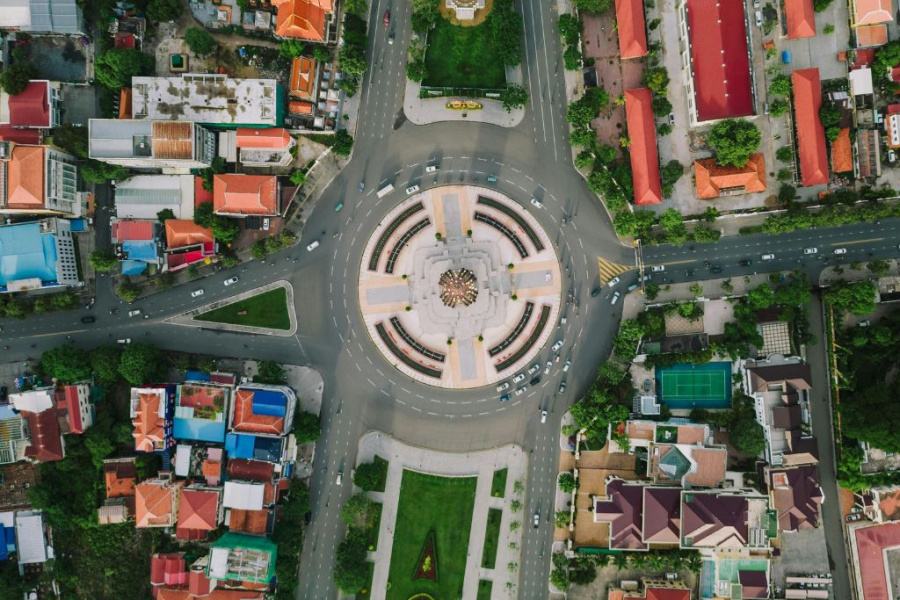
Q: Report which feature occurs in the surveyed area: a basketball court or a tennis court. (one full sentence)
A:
Of the two, only a tennis court appears.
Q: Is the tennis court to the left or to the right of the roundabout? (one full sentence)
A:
It is on the right side of the roundabout that the tennis court is positioned.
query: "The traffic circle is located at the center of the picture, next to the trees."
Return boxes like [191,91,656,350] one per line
[326,152,594,420]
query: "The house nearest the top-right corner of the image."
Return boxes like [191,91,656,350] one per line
[841,0,894,50]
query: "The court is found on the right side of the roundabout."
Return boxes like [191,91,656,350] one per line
[656,362,731,408]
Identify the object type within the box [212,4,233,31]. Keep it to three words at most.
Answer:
building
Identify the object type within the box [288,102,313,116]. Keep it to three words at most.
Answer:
shed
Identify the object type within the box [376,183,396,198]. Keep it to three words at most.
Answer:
vehicle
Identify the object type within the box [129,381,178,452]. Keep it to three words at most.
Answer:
house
